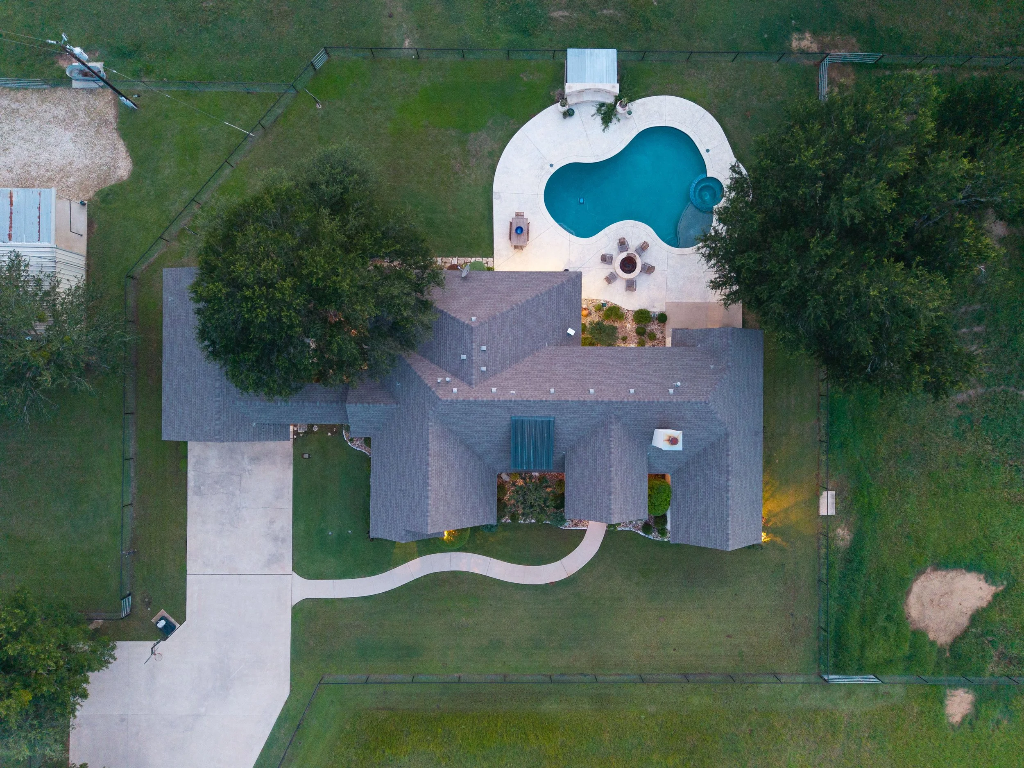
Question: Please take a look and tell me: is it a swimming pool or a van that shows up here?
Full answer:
This aerial view contains a swimming pool.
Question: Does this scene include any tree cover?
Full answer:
Yes, tree cover can be seen from above here.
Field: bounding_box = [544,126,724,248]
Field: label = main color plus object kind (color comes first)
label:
blue swimming pool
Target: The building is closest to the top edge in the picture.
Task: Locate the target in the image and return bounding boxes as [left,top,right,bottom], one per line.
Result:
[563,49,619,107]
